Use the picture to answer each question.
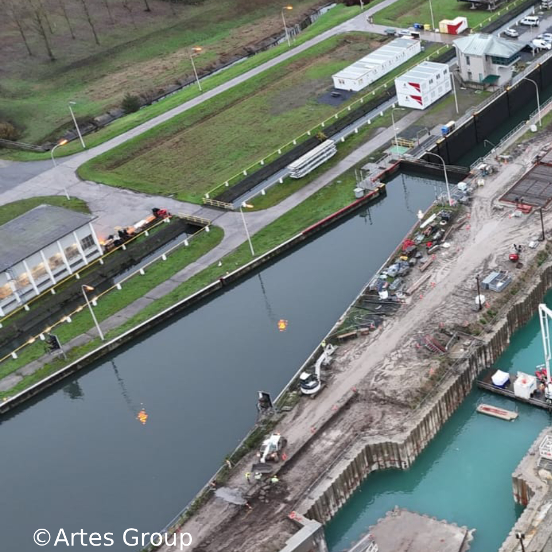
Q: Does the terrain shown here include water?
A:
Yes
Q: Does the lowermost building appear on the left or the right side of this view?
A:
left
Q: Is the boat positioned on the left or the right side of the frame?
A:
right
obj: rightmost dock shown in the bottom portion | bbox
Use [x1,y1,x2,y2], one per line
[477,373,552,410]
